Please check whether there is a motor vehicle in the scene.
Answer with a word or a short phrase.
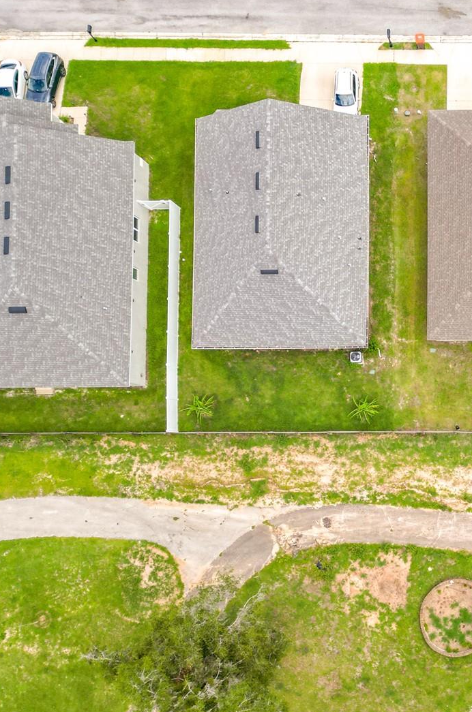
Yes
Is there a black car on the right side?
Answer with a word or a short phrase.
No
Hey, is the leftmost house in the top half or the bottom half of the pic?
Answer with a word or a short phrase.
top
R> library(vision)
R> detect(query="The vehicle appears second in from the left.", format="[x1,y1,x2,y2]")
[23,52,67,112]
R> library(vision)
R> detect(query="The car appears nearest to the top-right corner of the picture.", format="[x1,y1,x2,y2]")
[333,67,363,115]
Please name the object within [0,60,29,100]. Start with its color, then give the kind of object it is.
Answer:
white car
